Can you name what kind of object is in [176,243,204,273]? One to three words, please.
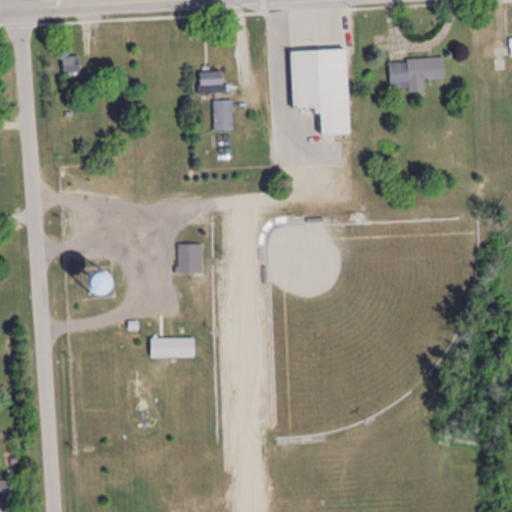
building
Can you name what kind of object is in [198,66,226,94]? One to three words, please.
house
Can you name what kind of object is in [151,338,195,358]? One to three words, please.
building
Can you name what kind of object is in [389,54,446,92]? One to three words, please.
house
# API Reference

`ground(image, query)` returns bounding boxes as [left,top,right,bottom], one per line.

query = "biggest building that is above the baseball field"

[290,48,351,133]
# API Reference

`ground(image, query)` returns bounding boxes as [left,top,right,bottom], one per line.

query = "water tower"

[88,268,118,298]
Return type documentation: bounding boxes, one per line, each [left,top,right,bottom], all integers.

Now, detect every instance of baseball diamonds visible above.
[262,212,480,446]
